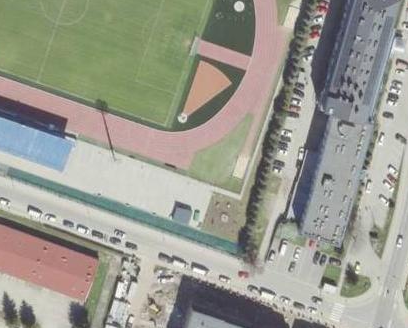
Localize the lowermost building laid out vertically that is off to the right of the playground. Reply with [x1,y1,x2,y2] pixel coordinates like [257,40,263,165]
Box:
[299,102,371,247]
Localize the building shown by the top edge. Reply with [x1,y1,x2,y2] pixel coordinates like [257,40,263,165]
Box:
[320,0,402,121]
